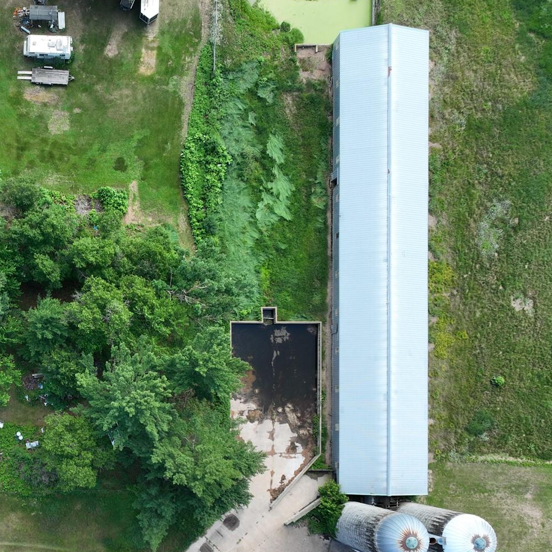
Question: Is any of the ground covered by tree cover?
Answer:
Yes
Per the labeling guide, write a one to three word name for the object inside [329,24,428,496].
barn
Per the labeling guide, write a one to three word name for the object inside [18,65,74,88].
trailer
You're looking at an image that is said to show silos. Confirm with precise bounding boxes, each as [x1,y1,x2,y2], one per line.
[336,501,431,552]
[399,501,499,552]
